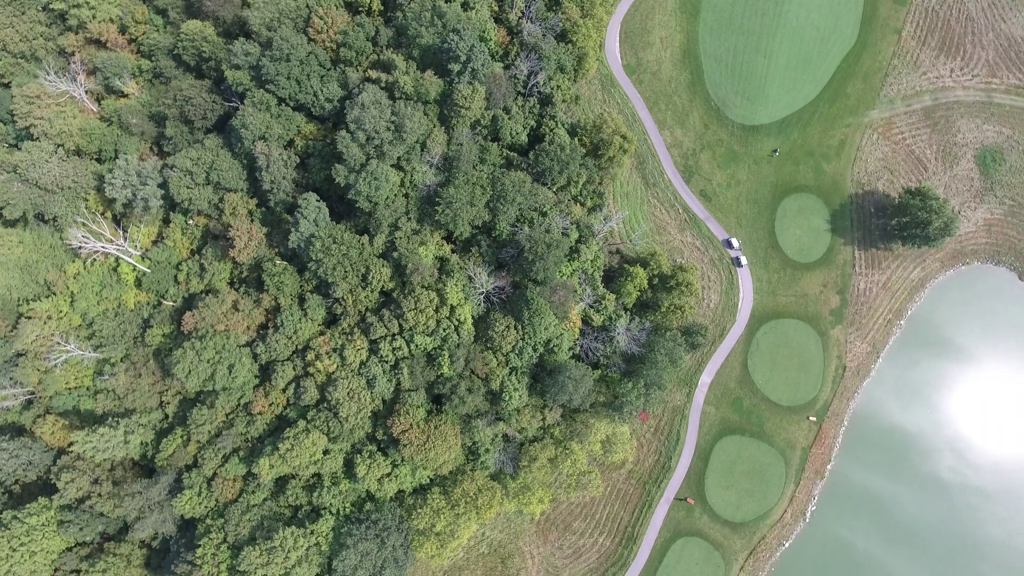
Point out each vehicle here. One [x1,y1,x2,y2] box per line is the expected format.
[736,255,748,268]
[728,238,741,251]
